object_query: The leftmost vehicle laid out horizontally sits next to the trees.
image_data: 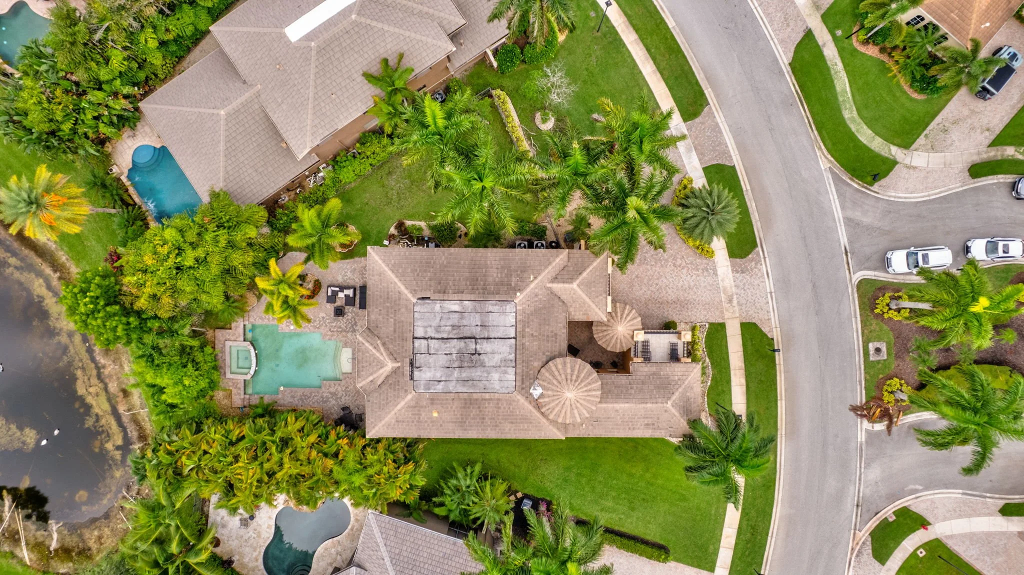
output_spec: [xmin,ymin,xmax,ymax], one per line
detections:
[882,246,951,275]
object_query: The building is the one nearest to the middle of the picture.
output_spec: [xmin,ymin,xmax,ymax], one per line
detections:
[355,245,703,441]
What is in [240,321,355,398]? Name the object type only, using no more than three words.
swimming pool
